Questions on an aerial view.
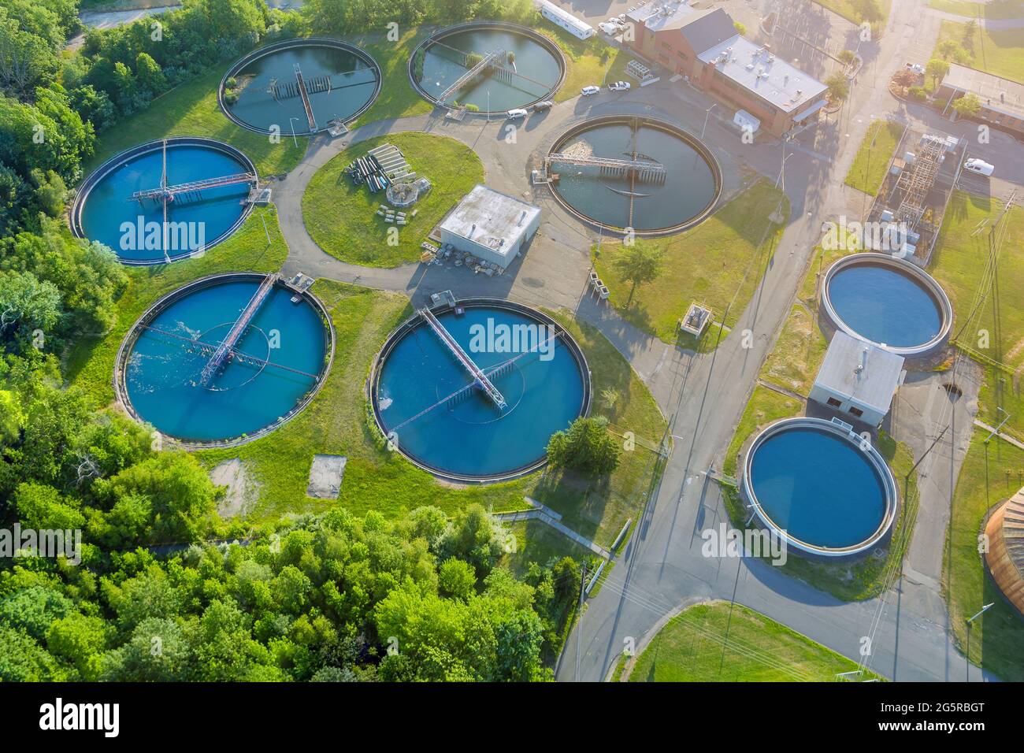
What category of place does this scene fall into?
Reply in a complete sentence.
The picture captures an industrial area.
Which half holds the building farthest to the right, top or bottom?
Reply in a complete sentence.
You can find the building farthest to the right in the top half.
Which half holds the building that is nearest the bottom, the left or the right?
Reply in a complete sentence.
The building that is nearest the bottom is on the right side of the image.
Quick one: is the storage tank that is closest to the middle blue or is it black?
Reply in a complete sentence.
The color of the storage tank that is closest to the middle is blue.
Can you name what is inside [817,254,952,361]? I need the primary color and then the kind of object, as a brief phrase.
blue water tank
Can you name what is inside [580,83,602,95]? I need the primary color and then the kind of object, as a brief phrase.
white vehicle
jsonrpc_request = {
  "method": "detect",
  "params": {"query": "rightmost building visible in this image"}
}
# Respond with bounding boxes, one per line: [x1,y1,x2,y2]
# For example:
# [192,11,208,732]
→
[940,62,1024,129]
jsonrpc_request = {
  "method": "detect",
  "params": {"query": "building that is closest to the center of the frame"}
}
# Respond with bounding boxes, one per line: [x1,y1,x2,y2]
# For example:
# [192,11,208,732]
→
[432,184,540,270]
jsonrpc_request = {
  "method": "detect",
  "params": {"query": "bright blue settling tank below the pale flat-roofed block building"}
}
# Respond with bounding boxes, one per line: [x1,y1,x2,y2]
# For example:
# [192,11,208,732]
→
[371,296,590,485]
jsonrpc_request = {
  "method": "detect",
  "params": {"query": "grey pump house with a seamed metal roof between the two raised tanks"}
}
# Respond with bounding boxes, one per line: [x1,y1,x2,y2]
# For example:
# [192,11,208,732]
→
[809,330,907,425]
